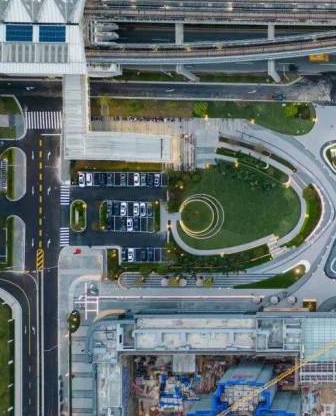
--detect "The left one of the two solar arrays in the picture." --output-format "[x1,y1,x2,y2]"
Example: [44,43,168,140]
[6,25,33,41]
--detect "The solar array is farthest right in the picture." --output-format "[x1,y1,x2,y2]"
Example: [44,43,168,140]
[40,25,66,41]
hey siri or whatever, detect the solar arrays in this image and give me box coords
[6,25,33,41]
[40,25,66,41]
